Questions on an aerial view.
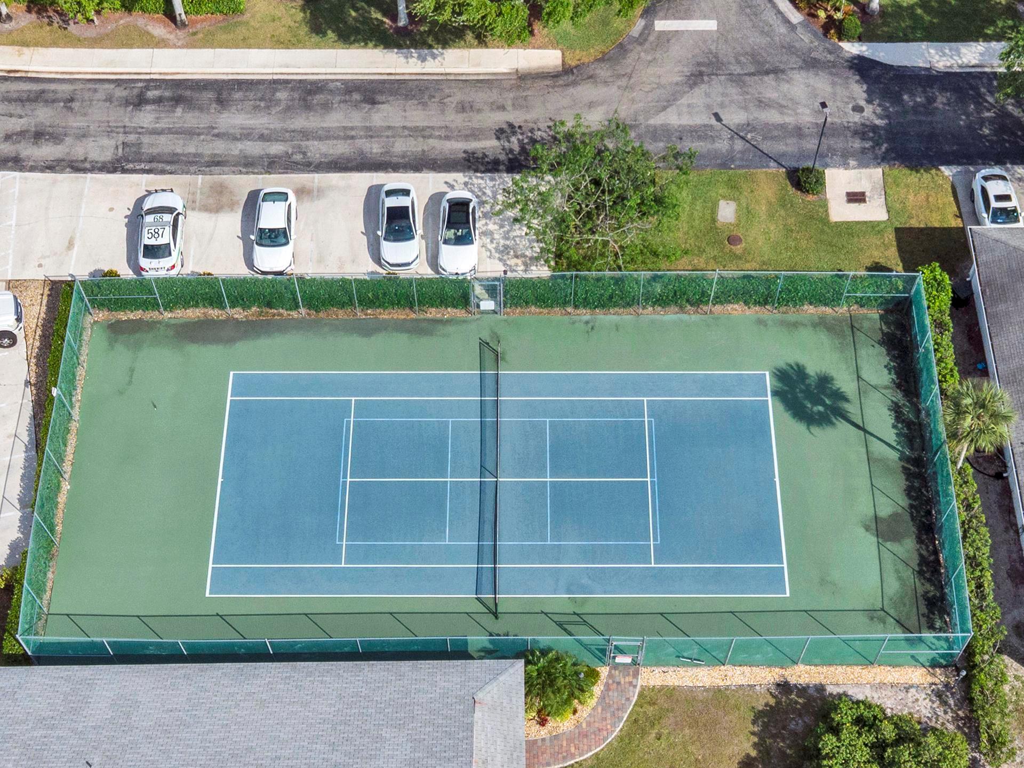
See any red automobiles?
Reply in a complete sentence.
No, no red automobile is visible in the scene.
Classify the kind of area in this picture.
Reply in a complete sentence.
This image shows a sports ground.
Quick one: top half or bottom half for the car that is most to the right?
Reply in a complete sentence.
It is in the top half that the car that is most to the right appears.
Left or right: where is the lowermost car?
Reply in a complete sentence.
You can find the lowermost car on the left side of the picture.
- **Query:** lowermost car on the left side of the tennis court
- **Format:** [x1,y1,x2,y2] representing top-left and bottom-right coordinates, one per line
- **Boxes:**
[0,298,27,348]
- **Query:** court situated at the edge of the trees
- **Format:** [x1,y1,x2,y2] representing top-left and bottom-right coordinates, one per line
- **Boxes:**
[46,314,951,667]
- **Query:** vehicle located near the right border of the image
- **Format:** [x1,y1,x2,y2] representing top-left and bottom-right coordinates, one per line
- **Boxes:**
[975,169,1024,226]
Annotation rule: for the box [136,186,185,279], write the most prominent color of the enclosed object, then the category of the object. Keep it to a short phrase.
white car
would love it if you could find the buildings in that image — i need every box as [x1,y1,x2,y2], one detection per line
[0,657,524,768]
[962,226,1024,571]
